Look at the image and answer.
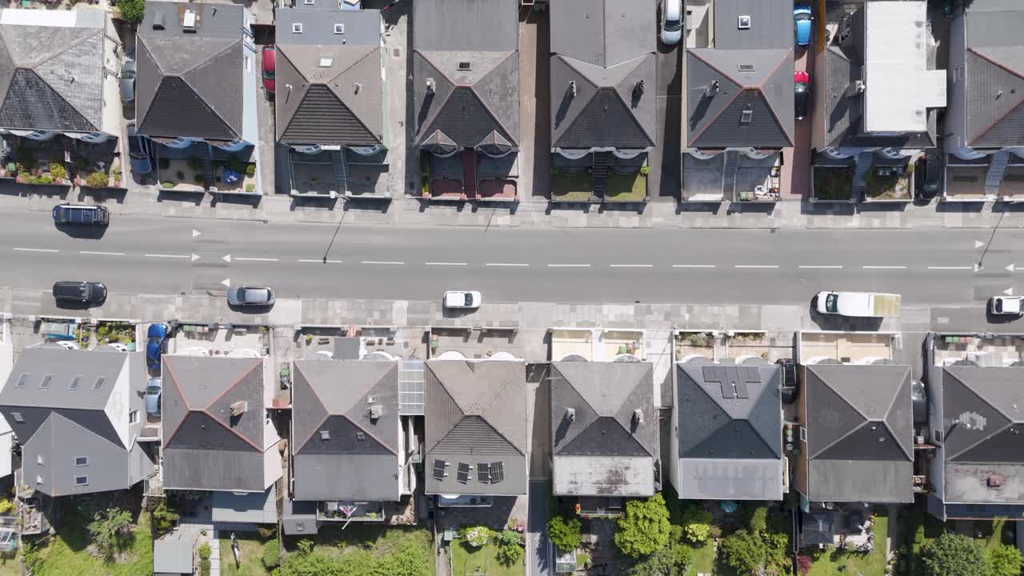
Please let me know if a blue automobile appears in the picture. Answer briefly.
Yes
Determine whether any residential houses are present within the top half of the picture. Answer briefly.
Yes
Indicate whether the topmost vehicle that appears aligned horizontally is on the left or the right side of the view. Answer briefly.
left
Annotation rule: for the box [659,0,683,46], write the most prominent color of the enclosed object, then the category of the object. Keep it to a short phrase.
white car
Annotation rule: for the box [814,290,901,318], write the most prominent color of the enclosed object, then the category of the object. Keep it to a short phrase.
white truck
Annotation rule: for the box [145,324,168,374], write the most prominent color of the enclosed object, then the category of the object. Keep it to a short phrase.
blue car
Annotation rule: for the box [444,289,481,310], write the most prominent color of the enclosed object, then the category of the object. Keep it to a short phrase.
white car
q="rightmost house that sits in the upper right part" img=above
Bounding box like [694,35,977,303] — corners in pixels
[946,0,1024,159]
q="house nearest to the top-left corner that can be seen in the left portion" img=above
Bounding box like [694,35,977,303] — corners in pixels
[0,7,121,144]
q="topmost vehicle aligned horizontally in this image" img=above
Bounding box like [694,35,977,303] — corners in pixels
[57,203,111,228]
